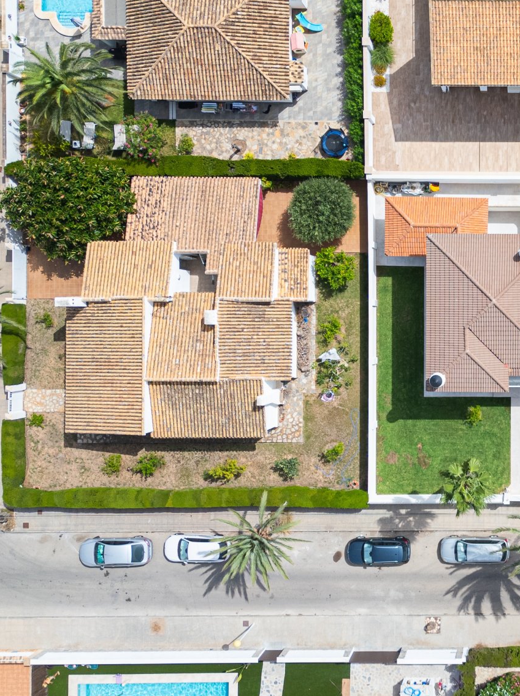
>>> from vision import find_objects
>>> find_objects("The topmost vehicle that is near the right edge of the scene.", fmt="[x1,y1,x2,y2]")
[439,533,510,567]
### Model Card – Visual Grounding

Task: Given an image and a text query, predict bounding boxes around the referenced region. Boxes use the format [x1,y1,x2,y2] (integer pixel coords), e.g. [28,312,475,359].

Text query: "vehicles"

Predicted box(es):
[346,533,411,569]
[166,530,234,566]
[439,533,510,567]
[81,534,154,571]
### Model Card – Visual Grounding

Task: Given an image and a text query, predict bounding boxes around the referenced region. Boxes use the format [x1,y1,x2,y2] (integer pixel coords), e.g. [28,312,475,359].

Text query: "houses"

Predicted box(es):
[124,0,316,117]
[55,176,329,438]
[431,0,520,112]
[423,231,520,397]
